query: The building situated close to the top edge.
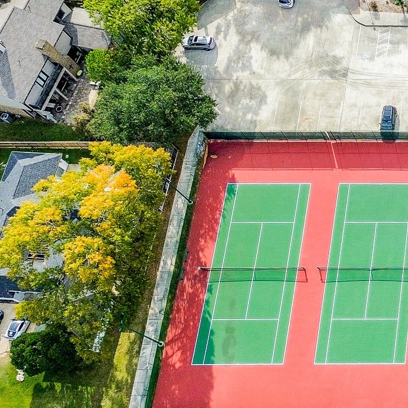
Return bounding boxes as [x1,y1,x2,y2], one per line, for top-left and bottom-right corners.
[0,0,116,123]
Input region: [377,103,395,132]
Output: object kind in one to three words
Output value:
car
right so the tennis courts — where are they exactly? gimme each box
[294,141,408,408]
[152,140,329,408]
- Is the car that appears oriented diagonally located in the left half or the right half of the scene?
left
